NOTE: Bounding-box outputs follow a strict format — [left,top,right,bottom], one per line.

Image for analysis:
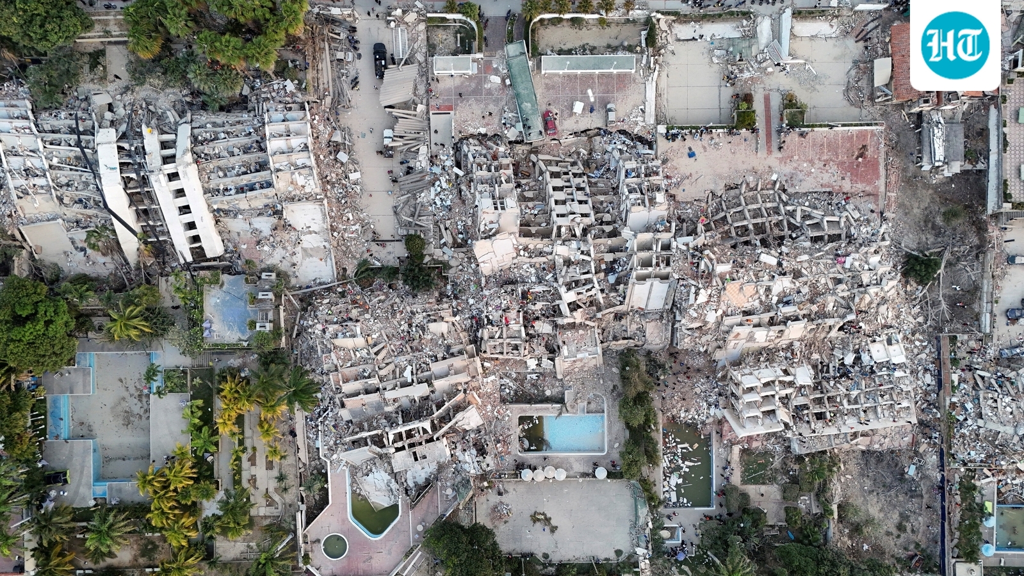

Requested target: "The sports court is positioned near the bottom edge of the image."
[475,479,650,563]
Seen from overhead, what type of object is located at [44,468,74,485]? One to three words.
tent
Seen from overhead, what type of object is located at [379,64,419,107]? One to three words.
shed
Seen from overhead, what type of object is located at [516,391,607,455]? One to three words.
swimming pool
